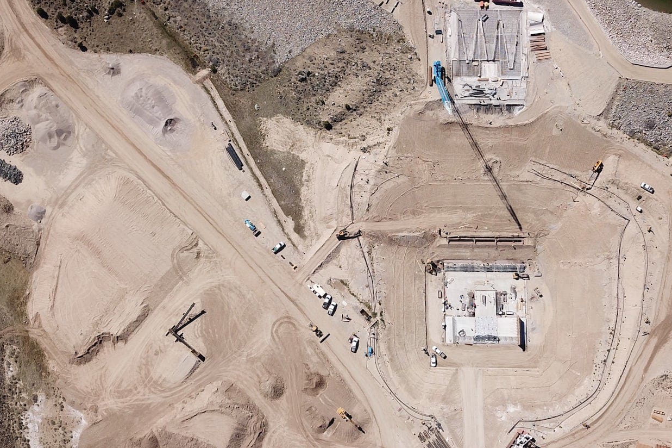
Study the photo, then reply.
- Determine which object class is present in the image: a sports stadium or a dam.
dam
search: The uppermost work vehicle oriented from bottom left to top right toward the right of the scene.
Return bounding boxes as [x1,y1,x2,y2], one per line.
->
[579,158,605,194]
